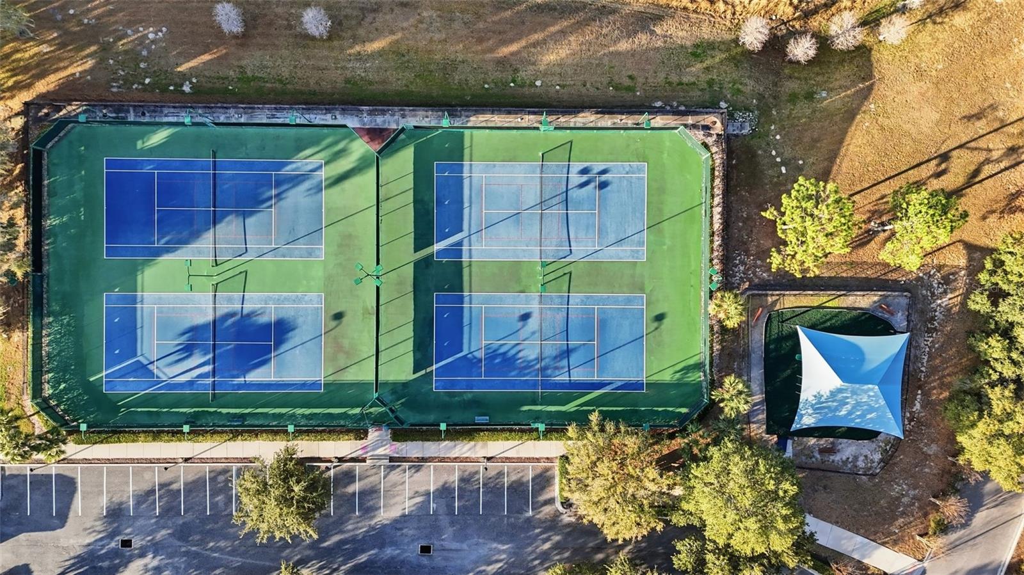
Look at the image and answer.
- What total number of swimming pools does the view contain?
0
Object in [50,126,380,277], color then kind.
blue tennis court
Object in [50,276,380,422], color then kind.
blue tennis court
